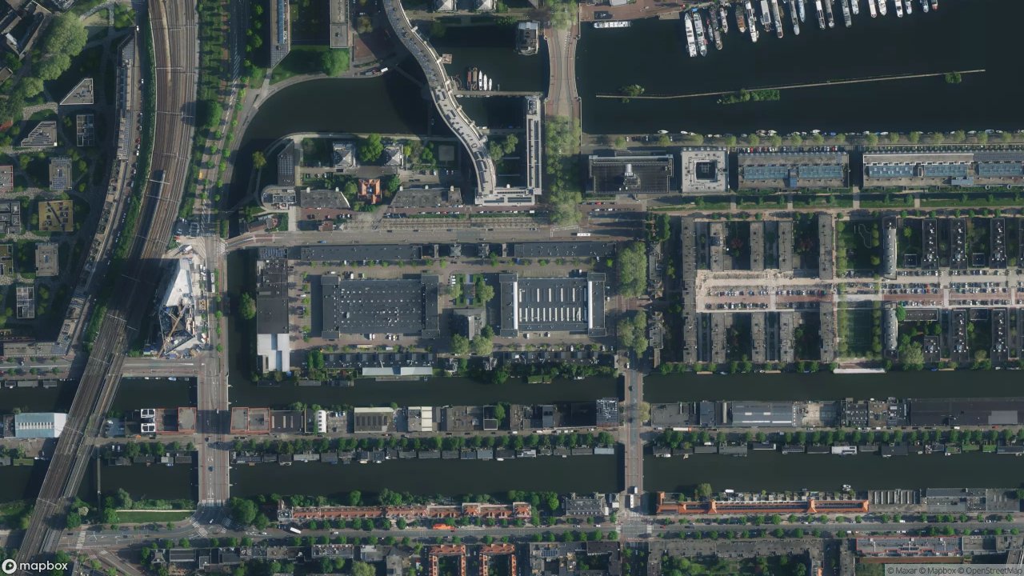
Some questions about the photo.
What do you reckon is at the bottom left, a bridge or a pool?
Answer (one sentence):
The one visible at the bottom left is a bridge.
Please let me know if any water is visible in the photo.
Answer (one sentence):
Yes, the picture does contain water.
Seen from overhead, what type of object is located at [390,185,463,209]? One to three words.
building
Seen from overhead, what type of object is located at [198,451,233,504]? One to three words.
bridge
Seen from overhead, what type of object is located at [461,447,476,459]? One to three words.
boat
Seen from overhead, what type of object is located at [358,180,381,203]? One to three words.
house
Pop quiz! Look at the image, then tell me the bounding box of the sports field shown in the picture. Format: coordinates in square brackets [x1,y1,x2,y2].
[846,310,874,357]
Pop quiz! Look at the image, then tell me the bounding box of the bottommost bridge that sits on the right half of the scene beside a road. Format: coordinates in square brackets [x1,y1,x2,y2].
[622,443,646,493]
